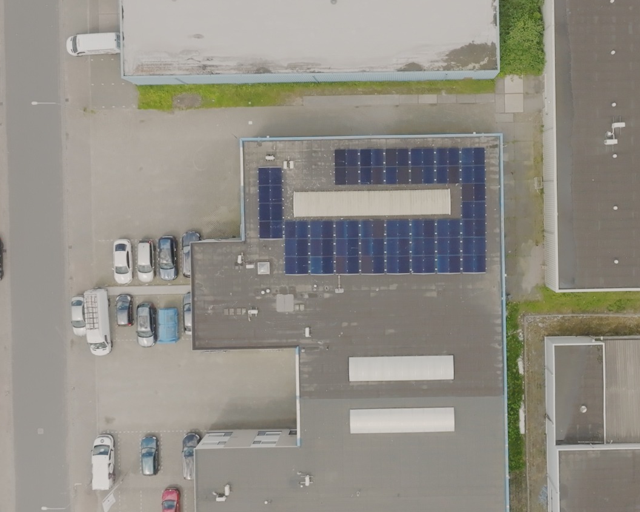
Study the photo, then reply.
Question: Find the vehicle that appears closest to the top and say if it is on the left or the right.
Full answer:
It is on the left.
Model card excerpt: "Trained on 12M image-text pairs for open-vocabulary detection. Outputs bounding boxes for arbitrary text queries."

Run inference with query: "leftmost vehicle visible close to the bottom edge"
[92,433,116,493]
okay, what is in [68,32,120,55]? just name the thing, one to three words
vehicle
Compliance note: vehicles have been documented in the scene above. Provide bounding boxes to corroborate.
[115,295,134,327]
[159,488,181,512]
[180,433,201,480]
[111,240,133,283]
[177,294,191,336]
[83,290,110,353]
[177,233,199,276]
[135,303,158,346]
[68,32,120,55]
[139,435,160,476]
[134,241,156,281]
[156,237,177,280]
[68,296,83,336]
[92,433,116,493]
